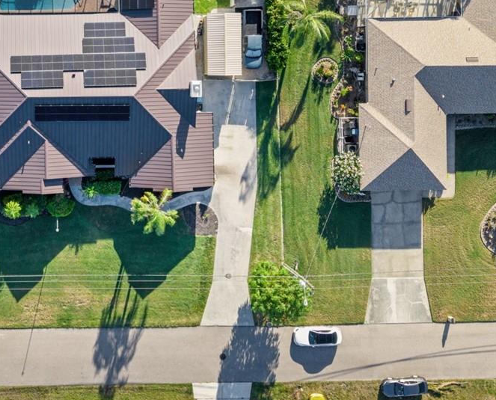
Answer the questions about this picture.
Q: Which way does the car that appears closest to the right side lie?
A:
from side to side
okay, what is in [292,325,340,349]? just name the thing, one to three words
car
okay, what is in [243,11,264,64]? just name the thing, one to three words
truck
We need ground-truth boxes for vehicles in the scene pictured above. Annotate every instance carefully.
[379,375,426,398]
[292,325,340,349]
[306,391,324,400]
[243,11,264,64]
